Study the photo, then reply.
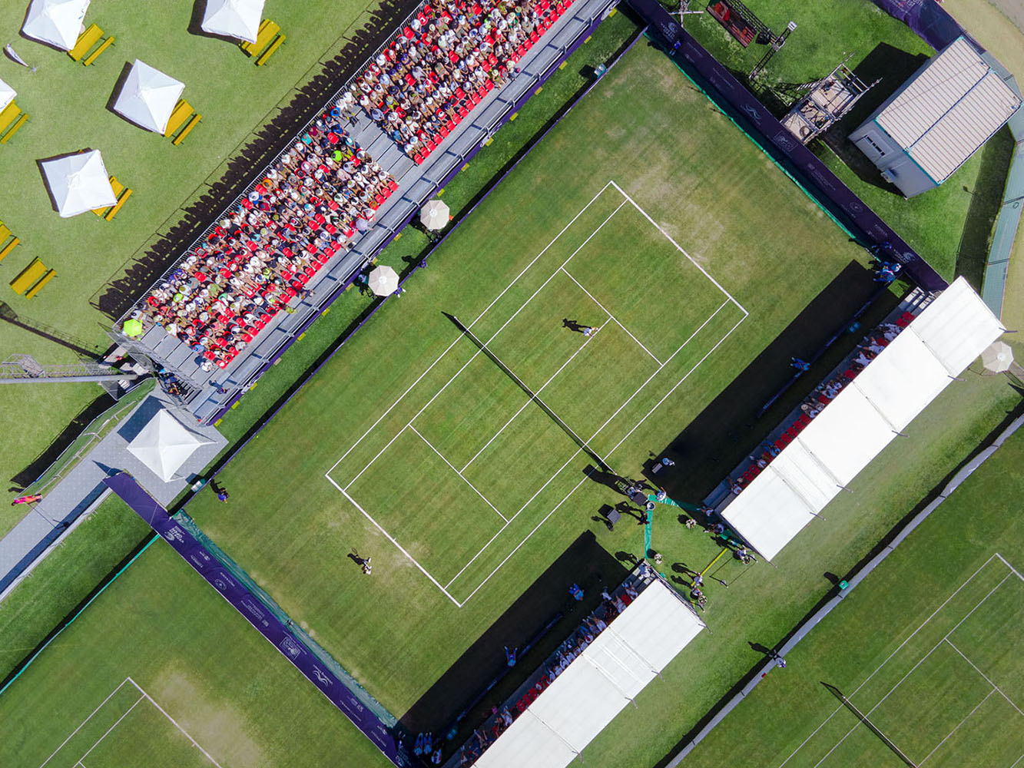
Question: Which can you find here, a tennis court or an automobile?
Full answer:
I can see a tennis court in this picture.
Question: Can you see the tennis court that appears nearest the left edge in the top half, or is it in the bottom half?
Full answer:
It is in the bottom half that the tennis court that appears nearest the left edge appears.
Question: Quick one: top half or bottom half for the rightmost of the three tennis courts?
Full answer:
It is in the bottom half that the rightmost of the three tennis courts appears.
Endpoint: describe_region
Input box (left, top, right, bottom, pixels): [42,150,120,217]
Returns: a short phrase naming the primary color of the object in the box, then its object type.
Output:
white umbrella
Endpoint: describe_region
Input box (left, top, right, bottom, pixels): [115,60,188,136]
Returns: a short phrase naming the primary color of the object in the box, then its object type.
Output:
white umbrella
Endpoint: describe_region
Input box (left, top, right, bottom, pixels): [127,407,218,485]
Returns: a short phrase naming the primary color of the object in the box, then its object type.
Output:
white gazebo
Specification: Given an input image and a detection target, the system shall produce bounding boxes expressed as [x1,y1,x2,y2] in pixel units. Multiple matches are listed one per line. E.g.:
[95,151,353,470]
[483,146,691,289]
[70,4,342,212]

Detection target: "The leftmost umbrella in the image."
[0,76,20,118]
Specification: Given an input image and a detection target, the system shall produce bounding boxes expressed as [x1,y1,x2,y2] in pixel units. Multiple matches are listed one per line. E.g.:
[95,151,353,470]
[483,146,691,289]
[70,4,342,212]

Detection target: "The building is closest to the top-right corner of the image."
[850,35,1024,197]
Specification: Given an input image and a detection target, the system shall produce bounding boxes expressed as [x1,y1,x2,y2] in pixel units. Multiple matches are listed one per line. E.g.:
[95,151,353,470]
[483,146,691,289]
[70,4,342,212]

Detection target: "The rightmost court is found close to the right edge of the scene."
[679,416,1024,768]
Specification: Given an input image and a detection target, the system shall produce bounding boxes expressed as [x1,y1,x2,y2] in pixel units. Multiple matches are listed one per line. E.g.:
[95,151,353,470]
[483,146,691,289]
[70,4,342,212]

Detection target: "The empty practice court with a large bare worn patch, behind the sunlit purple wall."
[0,535,396,768]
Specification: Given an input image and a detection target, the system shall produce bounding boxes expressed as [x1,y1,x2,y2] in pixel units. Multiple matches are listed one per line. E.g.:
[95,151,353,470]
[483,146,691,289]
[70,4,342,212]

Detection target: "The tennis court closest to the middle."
[177,25,903,757]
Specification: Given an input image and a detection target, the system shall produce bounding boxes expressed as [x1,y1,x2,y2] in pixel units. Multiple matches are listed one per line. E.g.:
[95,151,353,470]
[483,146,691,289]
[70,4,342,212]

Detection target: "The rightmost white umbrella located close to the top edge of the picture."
[203,0,272,45]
